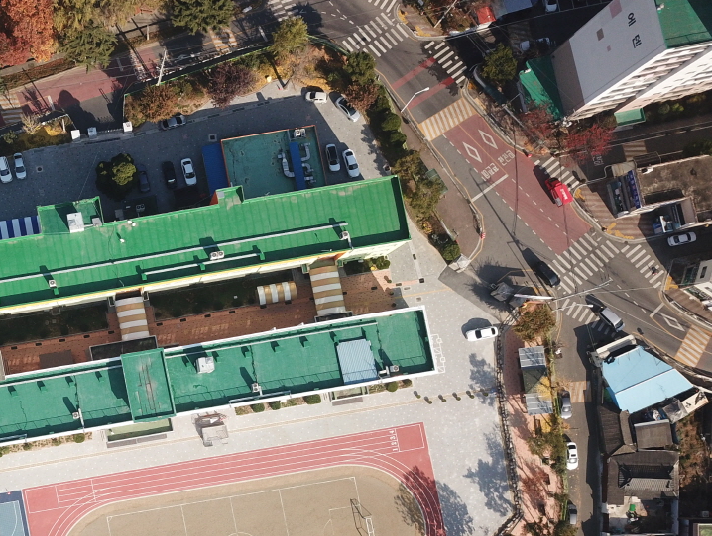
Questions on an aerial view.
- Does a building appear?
Yes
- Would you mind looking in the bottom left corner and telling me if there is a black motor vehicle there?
No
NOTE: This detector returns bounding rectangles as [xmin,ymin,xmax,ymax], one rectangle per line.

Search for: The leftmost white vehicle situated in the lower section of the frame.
[467,327,494,340]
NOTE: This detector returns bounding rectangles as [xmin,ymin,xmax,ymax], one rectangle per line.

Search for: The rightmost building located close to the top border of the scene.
[553,0,712,122]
